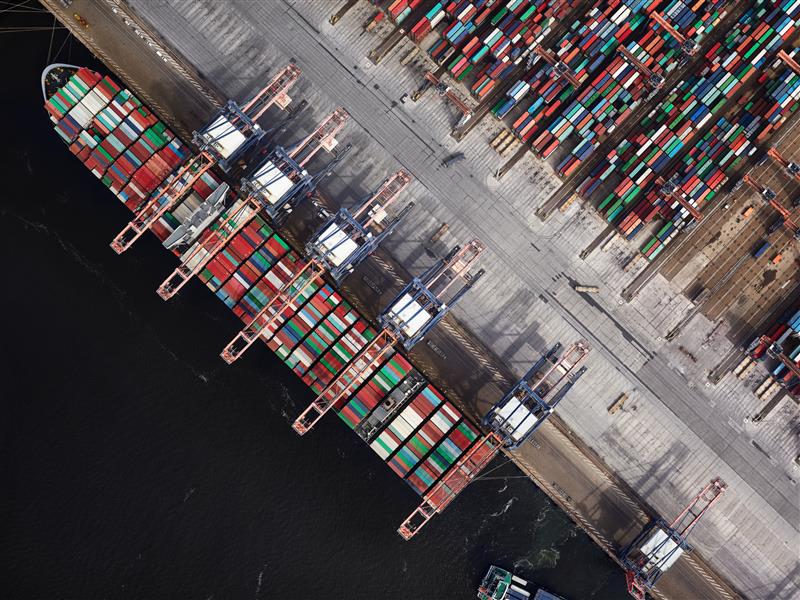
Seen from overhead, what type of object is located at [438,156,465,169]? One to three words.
vehicle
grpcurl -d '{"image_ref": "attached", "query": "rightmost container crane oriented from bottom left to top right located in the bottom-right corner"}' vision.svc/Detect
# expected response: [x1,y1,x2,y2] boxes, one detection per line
[610,470,737,600]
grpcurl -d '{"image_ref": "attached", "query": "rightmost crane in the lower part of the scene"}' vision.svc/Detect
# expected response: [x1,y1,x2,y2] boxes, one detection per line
[738,327,800,394]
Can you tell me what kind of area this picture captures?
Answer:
port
